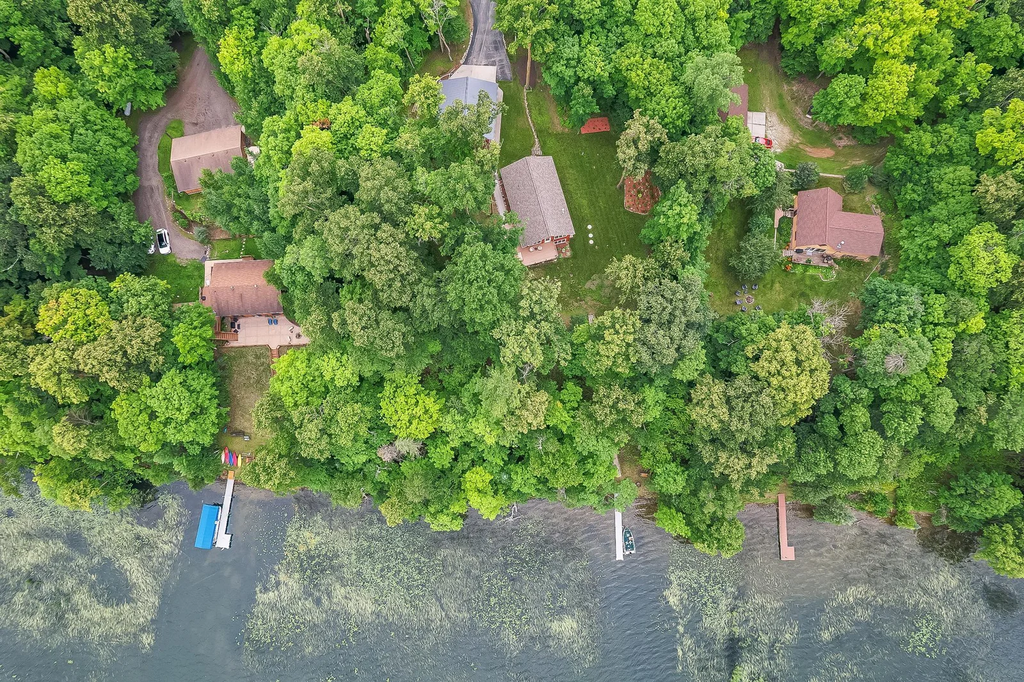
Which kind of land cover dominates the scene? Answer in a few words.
trees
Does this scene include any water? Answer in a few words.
Yes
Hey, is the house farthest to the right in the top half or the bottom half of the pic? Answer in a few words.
top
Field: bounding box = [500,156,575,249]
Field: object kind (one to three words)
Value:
house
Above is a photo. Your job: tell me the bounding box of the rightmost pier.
[778,494,795,560]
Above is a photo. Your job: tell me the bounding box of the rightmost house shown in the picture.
[789,189,886,257]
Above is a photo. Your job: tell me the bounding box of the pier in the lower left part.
[215,470,235,549]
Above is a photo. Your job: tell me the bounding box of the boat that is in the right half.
[623,527,636,557]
